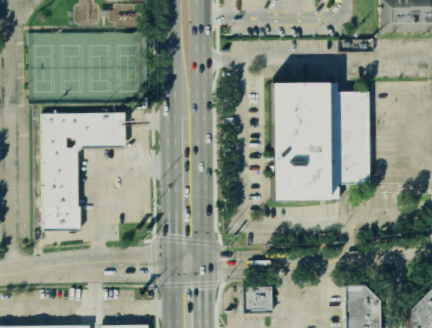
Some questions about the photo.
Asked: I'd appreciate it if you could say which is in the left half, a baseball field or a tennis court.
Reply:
tennis court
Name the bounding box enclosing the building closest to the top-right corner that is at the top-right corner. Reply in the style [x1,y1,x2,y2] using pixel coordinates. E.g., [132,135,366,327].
[378,0,432,34]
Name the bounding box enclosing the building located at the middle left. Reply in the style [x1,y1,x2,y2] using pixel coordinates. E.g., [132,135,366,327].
[38,111,126,230]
